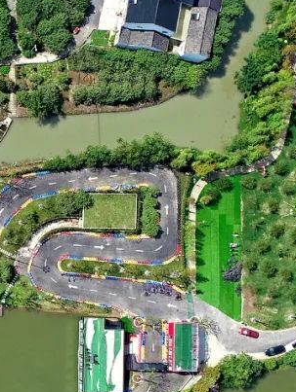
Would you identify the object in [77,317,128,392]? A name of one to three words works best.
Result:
building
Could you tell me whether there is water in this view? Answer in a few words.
Yes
